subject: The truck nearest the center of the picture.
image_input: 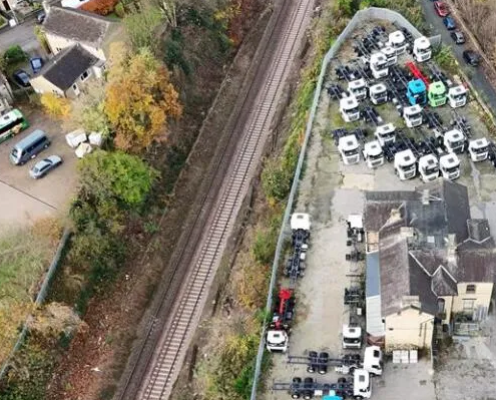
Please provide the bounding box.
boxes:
[286,216,311,290]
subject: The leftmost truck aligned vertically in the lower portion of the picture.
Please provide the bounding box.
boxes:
[265,289,293,355]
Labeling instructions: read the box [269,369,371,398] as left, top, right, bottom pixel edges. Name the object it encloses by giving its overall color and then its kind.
white truck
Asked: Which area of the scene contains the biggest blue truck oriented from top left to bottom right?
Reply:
top right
